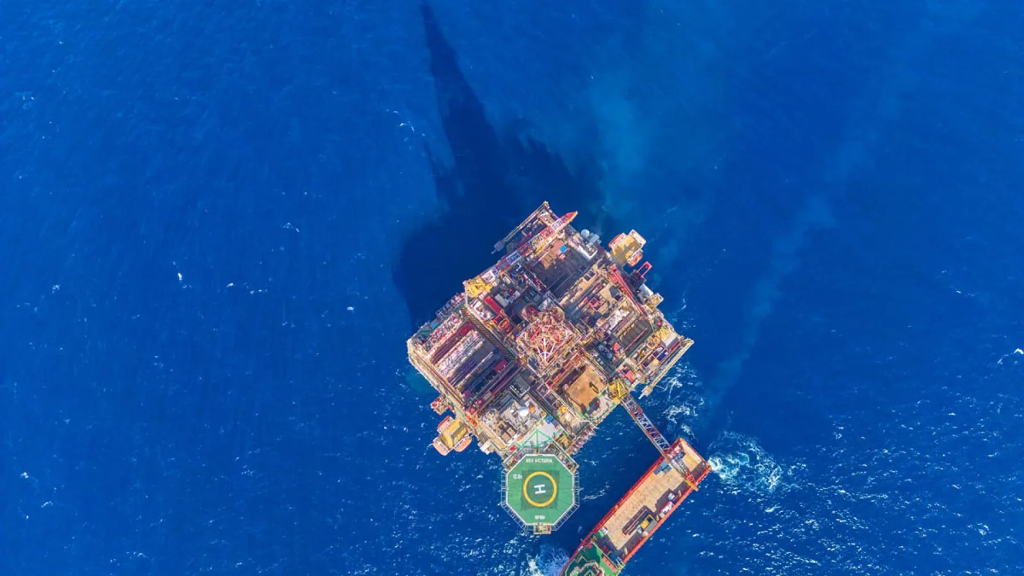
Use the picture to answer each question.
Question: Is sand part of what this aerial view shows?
No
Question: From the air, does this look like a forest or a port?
port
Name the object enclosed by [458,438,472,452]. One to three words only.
boat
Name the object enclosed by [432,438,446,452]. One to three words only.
boat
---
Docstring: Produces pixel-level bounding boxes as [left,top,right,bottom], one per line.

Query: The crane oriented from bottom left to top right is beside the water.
[463,209,581,301]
